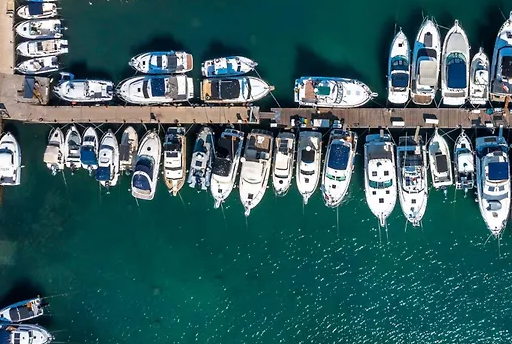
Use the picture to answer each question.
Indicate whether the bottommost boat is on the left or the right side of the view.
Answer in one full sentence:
You can find the bottommost boat on the left side of the picture.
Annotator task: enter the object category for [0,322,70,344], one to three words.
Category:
boat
